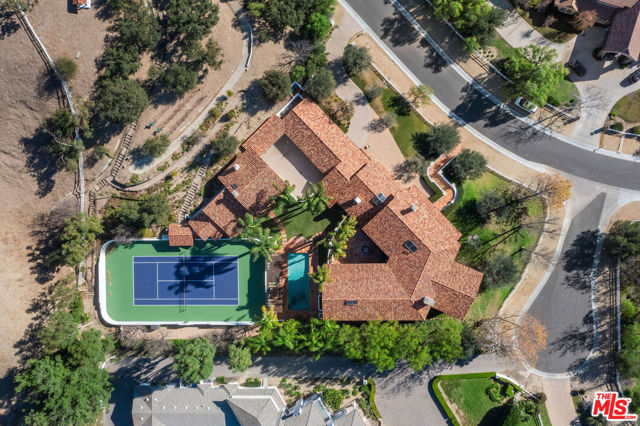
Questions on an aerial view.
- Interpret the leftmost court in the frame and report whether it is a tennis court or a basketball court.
tennis court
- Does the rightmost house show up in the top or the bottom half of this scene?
top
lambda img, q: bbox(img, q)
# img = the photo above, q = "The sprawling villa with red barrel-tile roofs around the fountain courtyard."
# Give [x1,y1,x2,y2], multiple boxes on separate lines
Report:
[188,98,483,322]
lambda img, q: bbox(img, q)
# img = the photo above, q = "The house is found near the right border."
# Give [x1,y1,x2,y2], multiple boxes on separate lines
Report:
[547,0,640,61]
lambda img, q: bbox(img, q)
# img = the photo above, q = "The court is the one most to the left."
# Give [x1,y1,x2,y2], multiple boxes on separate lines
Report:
[106,240,266,322]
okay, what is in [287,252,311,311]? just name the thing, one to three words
swimming pool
